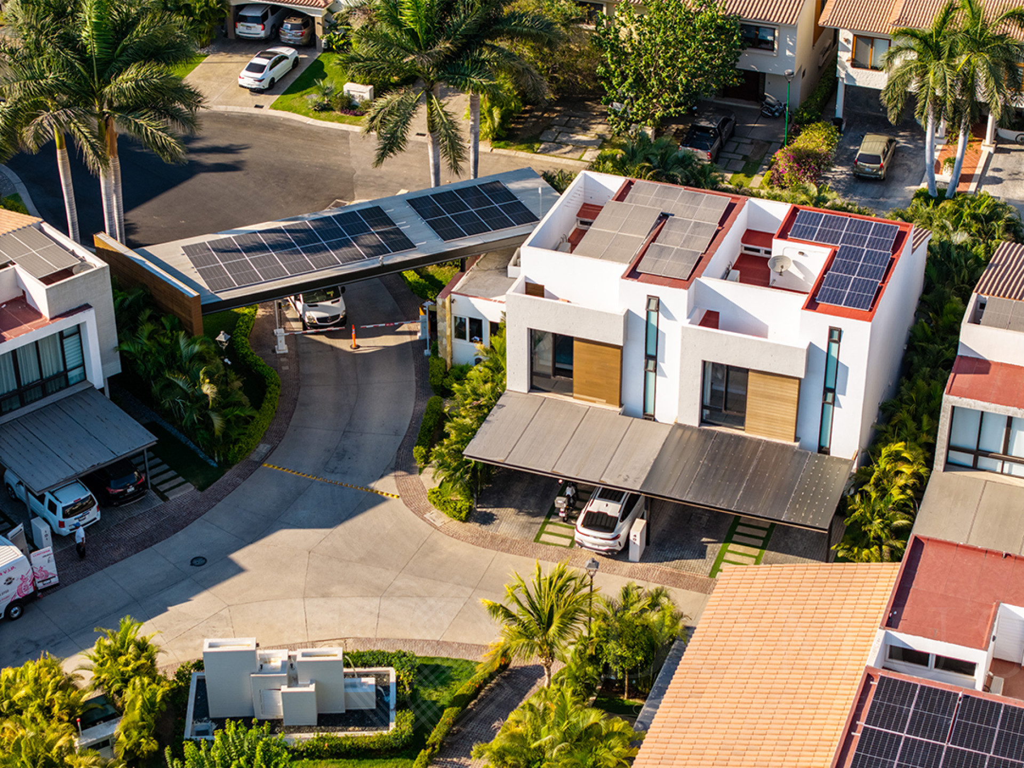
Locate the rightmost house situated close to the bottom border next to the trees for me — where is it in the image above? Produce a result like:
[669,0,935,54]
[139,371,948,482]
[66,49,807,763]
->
[607,534,1024,768]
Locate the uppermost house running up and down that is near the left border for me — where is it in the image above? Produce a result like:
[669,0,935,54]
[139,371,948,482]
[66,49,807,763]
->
[0,174,158,515]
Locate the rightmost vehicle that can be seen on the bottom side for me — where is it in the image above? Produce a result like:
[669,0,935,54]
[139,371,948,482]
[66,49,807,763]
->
[578,490,665,553]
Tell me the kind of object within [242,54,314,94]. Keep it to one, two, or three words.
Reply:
car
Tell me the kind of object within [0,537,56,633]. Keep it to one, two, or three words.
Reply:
van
